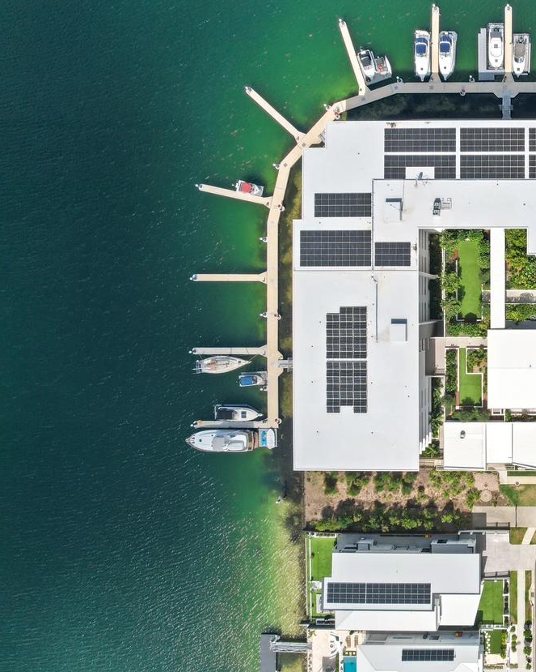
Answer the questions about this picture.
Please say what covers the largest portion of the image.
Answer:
water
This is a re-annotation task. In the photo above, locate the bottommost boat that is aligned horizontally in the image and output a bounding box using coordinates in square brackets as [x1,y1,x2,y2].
[181,429,264,453]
